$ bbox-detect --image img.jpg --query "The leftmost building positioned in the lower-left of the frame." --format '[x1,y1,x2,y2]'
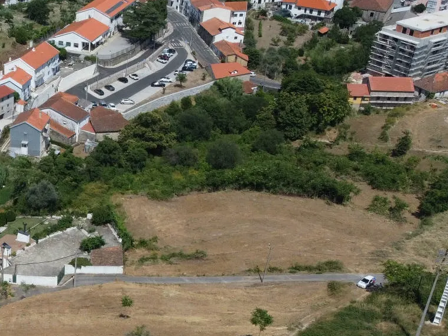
[0,230,35,273]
